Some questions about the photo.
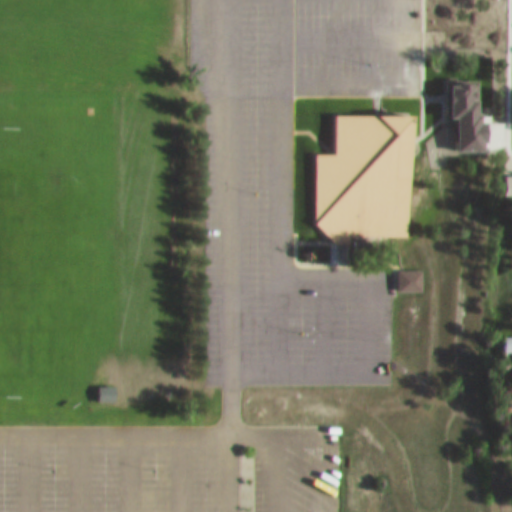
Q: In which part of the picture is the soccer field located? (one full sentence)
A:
The soccer field is located in the left region of the scene.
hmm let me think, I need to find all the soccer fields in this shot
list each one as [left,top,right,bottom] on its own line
[0,128,100,398]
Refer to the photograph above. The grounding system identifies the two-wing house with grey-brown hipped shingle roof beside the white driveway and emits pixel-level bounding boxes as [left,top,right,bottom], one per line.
[452,81,491,152]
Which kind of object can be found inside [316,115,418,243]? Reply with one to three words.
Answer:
building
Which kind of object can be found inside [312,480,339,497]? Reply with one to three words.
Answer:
vehicle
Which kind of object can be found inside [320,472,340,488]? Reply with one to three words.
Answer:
vehicle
